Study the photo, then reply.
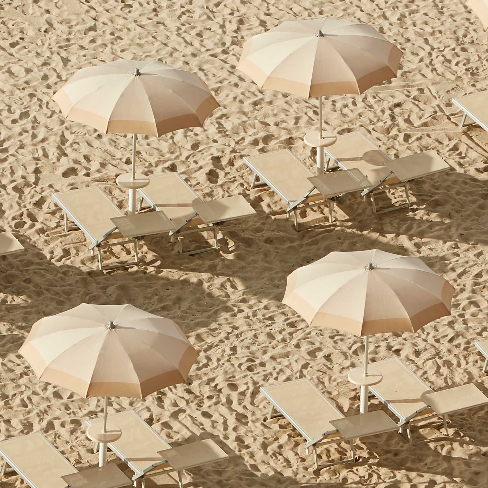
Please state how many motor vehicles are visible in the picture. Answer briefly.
0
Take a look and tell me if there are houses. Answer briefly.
No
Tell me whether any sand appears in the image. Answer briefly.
Yes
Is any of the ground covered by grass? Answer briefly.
No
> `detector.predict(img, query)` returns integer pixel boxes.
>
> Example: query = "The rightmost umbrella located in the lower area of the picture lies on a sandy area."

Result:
[282,250,456,415]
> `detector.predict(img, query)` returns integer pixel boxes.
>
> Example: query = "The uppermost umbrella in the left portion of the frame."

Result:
[52,59,222,214]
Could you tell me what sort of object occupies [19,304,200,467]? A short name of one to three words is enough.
umbrella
